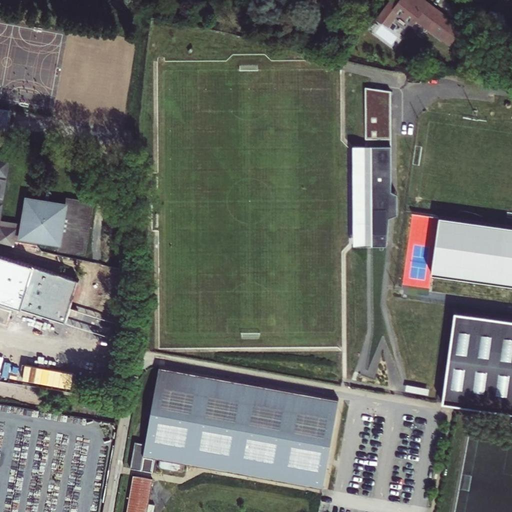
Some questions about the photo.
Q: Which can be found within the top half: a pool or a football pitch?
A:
football pitch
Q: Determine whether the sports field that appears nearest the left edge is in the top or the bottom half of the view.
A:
top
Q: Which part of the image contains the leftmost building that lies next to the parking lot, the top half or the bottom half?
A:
bottom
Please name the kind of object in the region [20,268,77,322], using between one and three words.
building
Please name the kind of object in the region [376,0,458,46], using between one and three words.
house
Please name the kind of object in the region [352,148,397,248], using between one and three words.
building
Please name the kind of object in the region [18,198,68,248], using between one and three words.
house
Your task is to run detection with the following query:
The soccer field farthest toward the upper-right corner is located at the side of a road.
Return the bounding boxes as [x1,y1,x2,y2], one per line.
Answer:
[412,102,512,214]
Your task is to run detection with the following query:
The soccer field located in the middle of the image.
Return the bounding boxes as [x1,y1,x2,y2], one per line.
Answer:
[158,62,341,348]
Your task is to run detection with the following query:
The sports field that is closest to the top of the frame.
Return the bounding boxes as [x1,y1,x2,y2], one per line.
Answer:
[54,34,134,120]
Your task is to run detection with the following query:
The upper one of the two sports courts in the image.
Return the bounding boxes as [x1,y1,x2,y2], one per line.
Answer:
[0,22,64,106]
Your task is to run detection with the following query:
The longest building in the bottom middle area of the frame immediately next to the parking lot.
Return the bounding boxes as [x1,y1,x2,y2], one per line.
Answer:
[142,370,338,491]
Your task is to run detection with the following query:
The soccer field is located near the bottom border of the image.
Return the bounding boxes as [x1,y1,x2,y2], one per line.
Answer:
[456,436,512,512]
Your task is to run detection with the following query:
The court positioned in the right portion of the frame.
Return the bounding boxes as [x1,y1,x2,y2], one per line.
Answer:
[402,214,438,289]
